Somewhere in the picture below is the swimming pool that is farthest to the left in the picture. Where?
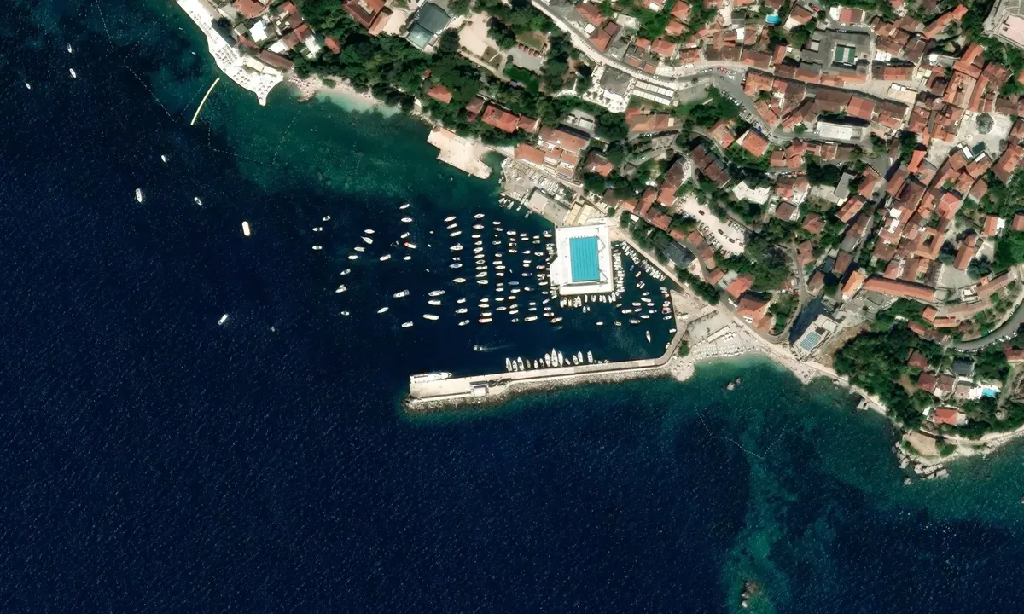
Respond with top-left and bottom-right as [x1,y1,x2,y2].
[550,223,614,295]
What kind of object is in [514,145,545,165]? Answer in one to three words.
house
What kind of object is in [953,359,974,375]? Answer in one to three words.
house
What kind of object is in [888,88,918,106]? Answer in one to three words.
building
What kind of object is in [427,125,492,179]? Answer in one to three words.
pier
